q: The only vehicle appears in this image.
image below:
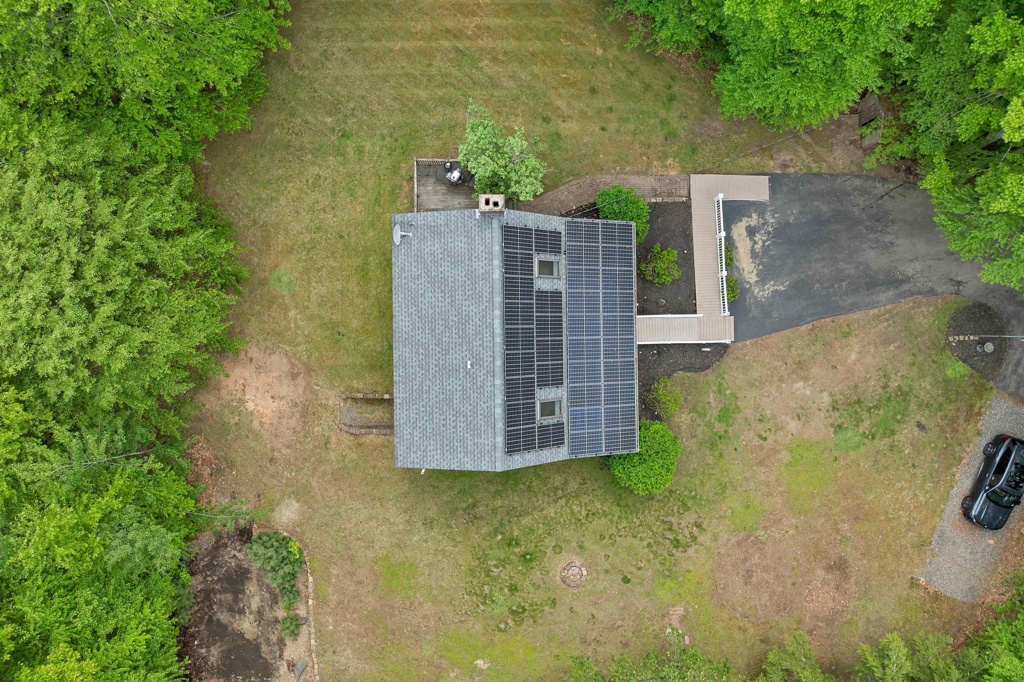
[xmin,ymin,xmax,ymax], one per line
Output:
[961,434,1024,532]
